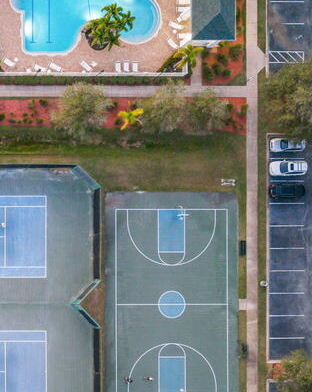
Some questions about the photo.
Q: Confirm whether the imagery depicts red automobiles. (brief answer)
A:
No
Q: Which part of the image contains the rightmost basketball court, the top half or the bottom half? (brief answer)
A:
bottom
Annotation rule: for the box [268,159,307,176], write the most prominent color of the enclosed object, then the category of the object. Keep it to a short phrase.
white car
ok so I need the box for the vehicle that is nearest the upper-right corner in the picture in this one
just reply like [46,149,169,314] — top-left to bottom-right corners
[269,137,305,153]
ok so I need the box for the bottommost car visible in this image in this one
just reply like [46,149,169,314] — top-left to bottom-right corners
[269,182,305,199]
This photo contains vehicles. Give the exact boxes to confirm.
[268,159,307,176]
[269,182,305,199]
[269,137,305,153]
